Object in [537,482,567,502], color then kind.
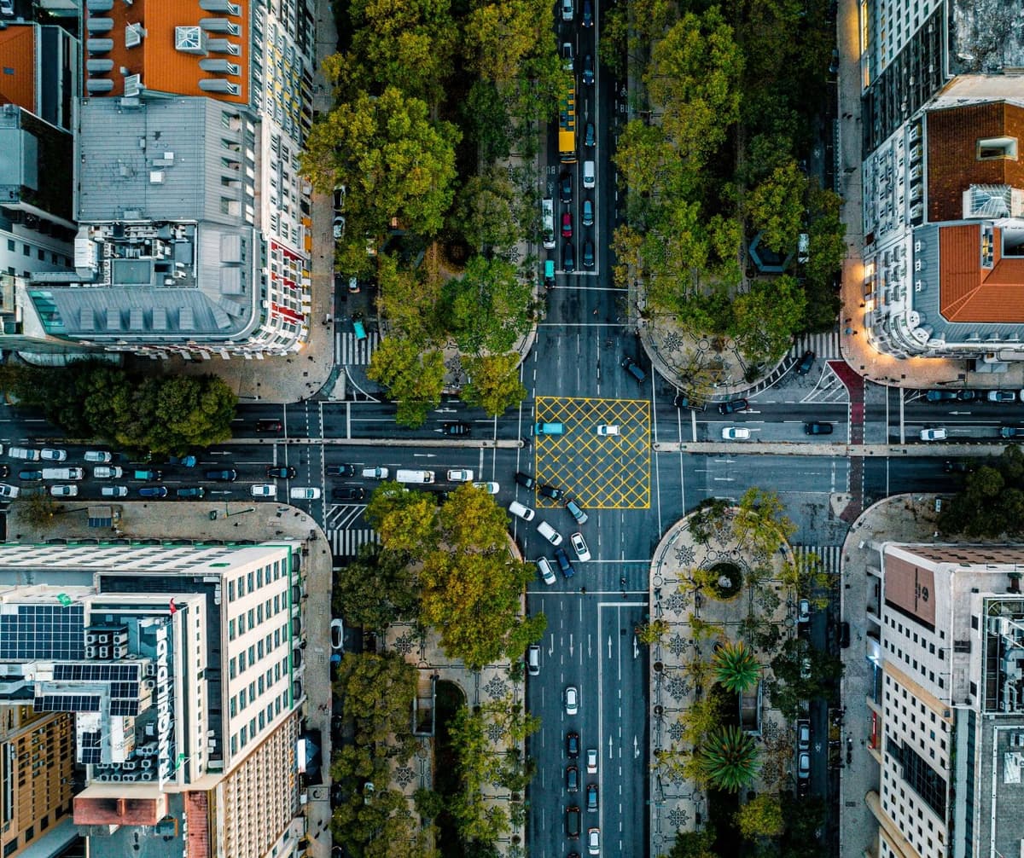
black car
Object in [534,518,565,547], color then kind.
white van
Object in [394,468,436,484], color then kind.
white vehicle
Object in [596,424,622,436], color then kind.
white vehicle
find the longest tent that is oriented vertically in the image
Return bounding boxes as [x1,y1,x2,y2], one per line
[301,724,327,781]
